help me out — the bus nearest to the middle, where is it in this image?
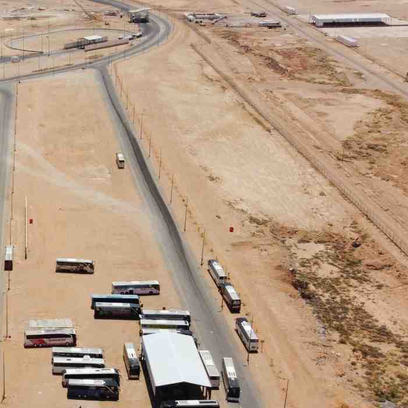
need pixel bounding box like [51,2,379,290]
[207,262,231,288]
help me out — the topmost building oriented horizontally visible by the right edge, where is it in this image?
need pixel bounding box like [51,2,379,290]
[300,10,393,26]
